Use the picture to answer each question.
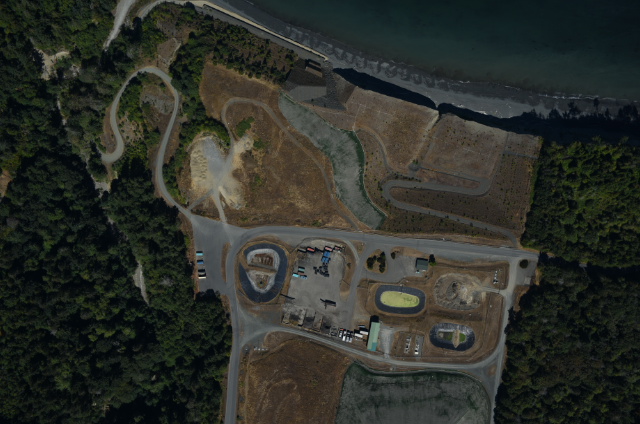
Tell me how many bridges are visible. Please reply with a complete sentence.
Not a single bridge can be seen.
